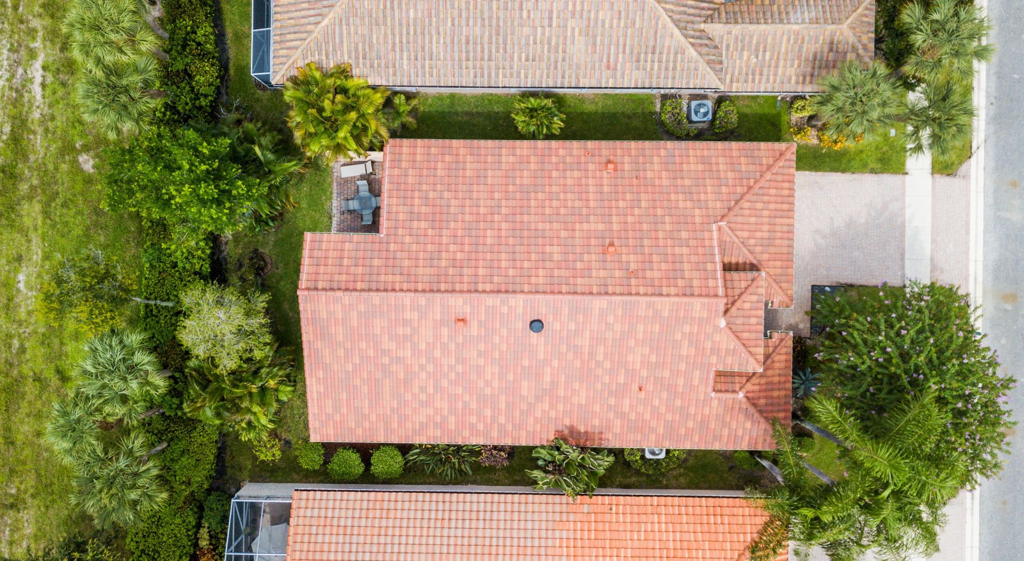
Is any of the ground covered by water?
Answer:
No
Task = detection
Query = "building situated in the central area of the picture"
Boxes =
[295,137,799,453]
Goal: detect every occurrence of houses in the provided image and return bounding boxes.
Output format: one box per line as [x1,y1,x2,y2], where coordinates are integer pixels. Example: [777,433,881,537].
[269,0,879,116]
[295,137,799,453]
[286,483,789,561]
